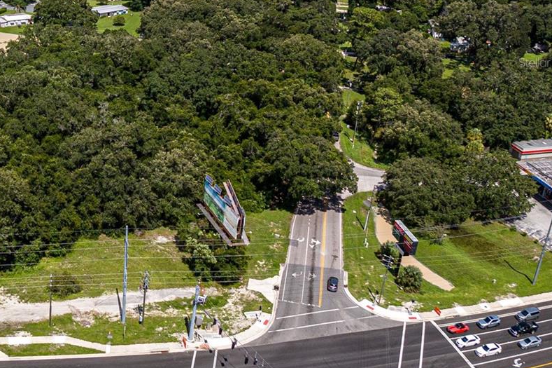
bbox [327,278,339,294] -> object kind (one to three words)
vehicle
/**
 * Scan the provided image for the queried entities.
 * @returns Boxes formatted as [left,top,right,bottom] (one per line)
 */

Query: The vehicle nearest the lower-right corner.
[518,336,542,350]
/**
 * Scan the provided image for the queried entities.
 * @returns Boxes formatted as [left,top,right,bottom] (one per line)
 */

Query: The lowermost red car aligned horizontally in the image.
[446,323,471,336]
